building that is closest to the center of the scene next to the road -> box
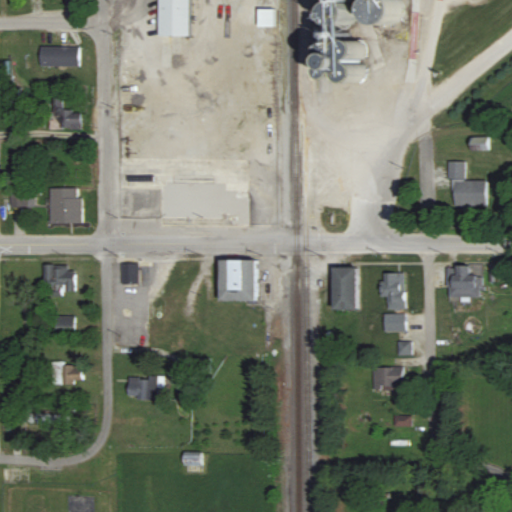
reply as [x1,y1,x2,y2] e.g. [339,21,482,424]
[218,260,260,301]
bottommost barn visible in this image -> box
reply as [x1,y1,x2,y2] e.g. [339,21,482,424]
[182,453,204,472]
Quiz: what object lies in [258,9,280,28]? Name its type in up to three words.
shed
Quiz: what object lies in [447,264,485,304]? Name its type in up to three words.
house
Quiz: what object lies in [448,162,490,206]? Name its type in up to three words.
house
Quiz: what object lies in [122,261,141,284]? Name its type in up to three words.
building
